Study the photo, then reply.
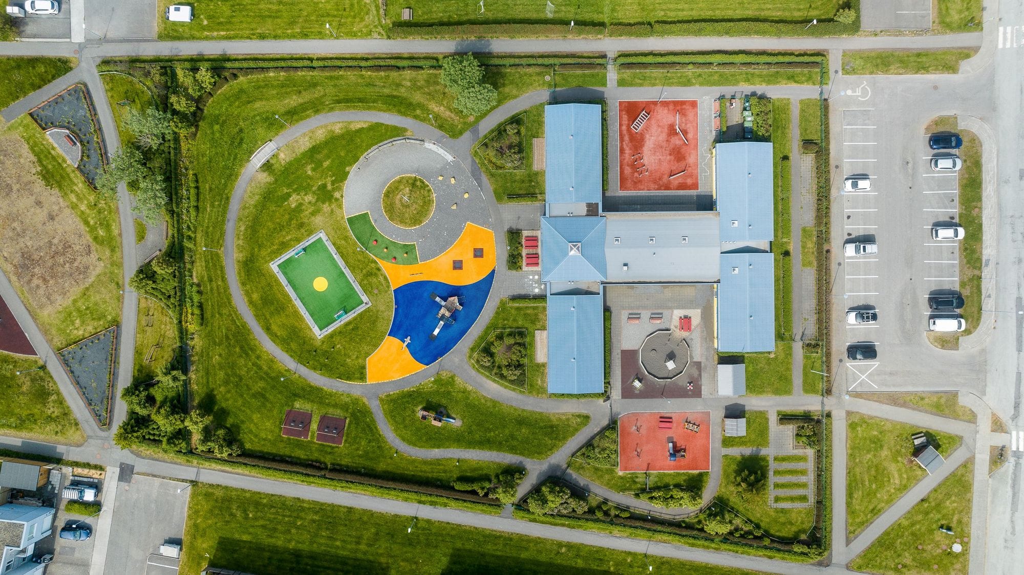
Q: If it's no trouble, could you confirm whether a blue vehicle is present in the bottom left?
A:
Yes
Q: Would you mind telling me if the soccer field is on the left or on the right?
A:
left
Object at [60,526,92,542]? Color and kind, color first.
blue car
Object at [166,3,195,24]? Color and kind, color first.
white vehicle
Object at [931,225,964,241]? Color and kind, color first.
white car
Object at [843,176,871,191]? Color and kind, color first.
white car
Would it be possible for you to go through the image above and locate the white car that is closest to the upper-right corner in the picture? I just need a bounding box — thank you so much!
[930,156,961,171]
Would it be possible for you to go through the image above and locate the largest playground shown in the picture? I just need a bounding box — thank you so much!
[336,136,497,383]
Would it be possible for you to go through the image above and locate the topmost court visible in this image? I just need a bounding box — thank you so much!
[619,99,699,192]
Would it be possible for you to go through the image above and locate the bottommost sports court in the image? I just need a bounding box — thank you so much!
[619,411,711,472]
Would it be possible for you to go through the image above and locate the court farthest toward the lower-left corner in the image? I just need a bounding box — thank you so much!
[0,296,37,356]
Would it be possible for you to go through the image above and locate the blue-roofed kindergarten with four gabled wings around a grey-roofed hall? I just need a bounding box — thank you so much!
[541,103,775,394]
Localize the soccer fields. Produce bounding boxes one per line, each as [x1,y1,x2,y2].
[270,230,370,338]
